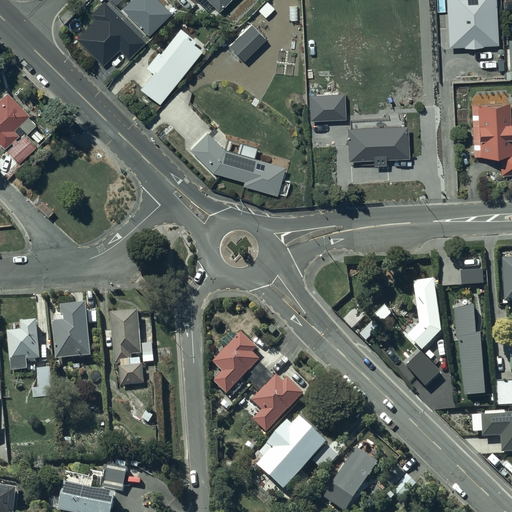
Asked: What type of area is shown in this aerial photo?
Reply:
residential area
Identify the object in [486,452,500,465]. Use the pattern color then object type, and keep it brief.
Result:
white vehicle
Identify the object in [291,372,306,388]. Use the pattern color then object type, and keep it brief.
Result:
gray car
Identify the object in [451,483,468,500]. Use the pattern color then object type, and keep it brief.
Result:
white vehicle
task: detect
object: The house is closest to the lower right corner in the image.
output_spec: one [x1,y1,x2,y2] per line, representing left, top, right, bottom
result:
[482,412,512,470]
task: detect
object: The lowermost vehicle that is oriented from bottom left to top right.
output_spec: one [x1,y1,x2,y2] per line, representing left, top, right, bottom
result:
[402,458,416,473]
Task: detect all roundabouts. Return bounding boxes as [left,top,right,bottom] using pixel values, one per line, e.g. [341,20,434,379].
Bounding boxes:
[220,230,259,268]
